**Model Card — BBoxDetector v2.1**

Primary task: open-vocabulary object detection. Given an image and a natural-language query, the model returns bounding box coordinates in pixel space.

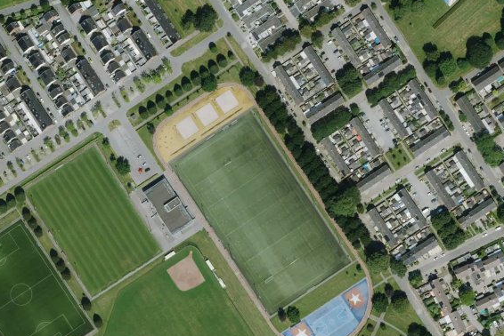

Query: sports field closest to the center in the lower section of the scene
[171,109,353,315]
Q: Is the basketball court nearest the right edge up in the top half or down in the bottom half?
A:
bottom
